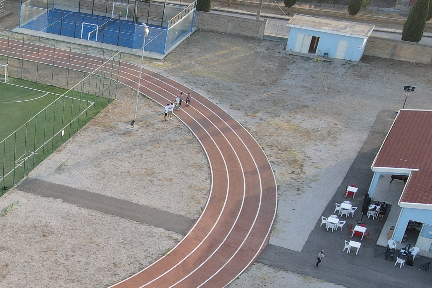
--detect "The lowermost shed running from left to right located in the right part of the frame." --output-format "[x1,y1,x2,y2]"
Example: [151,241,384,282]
[278,16,375,62]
